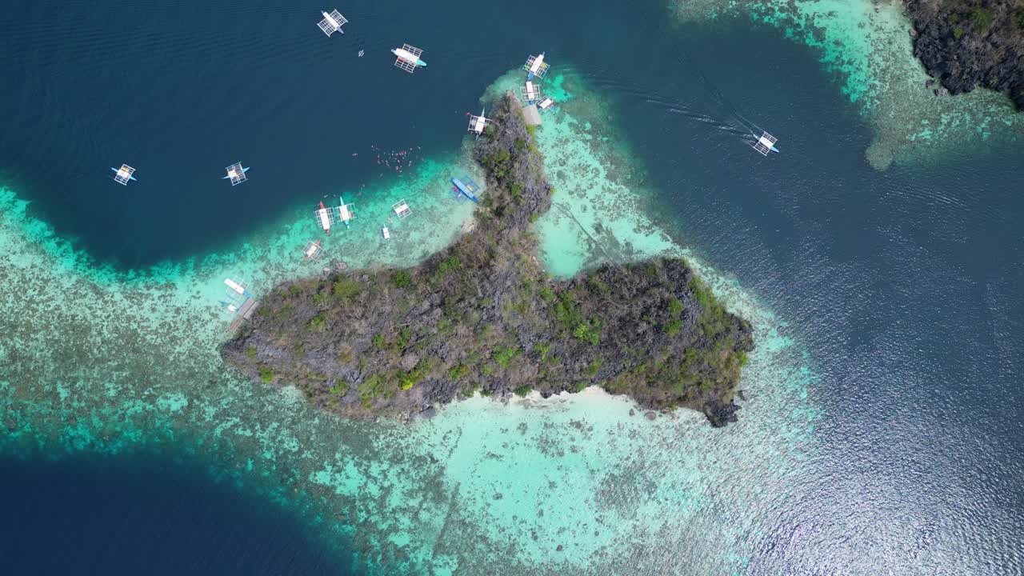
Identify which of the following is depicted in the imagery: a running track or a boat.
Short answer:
boat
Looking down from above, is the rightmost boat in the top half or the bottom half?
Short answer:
top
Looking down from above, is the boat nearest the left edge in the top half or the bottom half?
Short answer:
top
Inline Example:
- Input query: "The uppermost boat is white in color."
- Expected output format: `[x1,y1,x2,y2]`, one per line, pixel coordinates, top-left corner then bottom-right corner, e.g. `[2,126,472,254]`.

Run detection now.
[316,8,349,38]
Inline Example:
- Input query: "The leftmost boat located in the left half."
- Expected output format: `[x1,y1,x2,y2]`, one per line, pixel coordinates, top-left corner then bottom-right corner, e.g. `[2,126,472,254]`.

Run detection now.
[109,163,136,186]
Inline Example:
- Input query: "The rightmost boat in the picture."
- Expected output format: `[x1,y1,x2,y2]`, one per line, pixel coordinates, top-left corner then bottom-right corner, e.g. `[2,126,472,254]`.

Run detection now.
[752,131,781,156]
